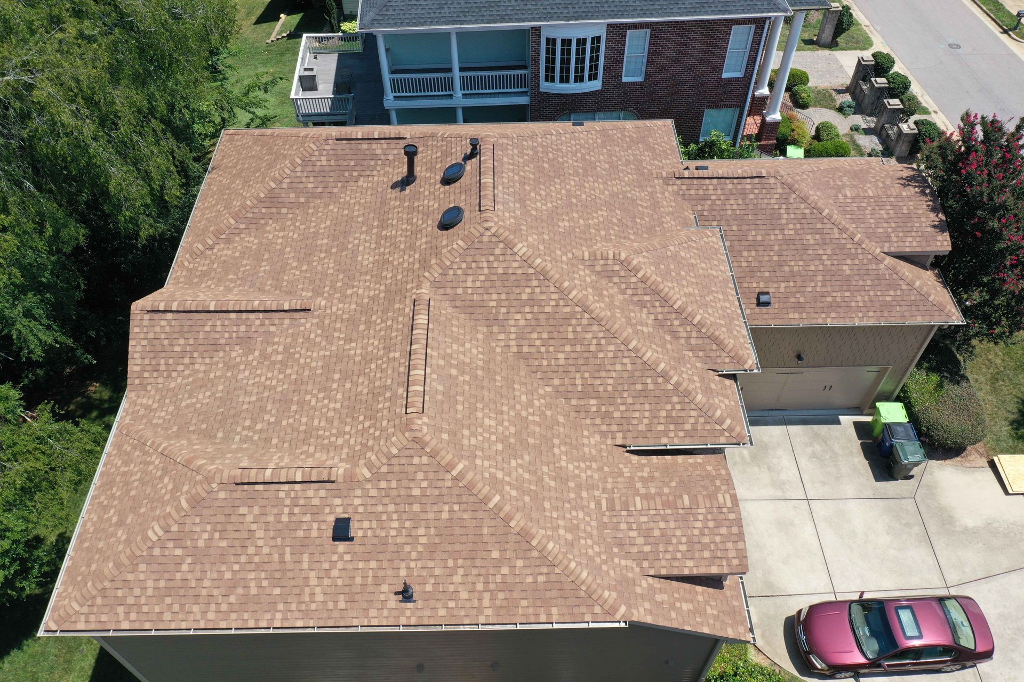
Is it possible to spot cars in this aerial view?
Yes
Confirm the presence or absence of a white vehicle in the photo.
No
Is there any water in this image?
No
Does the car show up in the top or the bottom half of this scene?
bottom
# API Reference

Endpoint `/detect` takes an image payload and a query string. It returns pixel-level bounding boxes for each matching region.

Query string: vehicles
[795,588,999,681]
